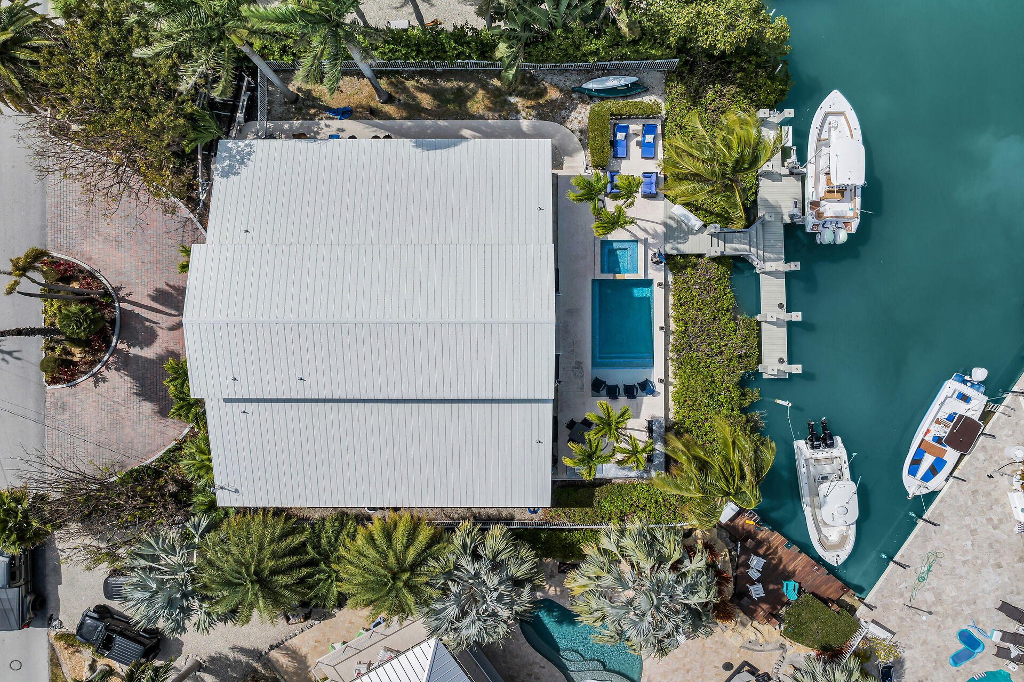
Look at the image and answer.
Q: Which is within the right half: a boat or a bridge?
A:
boat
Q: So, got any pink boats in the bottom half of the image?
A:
No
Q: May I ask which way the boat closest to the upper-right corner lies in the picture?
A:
from top to bottom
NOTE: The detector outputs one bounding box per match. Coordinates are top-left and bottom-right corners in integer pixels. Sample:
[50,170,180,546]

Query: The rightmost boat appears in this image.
[903,367,989,500]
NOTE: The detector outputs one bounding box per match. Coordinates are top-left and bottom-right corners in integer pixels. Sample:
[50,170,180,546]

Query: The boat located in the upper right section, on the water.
[803,89,873,245]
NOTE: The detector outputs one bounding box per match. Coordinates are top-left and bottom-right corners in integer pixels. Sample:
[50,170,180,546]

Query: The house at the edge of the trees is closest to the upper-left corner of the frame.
[183,139,563,507]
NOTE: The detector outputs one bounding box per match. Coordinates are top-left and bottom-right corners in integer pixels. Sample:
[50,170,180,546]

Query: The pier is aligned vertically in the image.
[753,109,801,378]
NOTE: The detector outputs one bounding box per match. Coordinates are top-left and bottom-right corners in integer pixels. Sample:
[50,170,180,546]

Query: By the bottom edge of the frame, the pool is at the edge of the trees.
[520,599,642,682]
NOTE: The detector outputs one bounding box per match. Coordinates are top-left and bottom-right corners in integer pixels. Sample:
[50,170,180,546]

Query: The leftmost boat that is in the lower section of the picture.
[795,416,860,571]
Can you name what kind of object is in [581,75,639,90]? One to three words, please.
boat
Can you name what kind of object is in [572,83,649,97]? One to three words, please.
boat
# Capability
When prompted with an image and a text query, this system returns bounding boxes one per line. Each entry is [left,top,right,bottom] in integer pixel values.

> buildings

[183,139,563,507]
[310,596,492,682]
